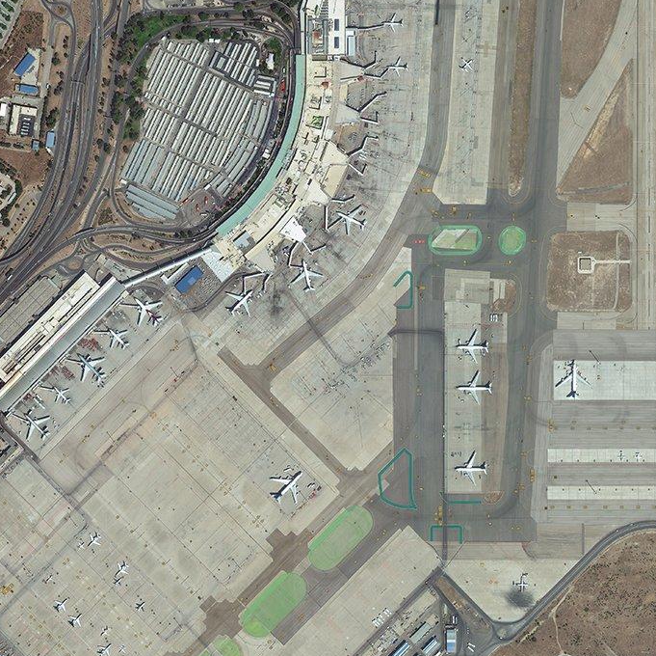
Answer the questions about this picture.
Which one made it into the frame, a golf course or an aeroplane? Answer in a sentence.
Of the two, only an aeroplane appears.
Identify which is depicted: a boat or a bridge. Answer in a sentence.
This aerial view contains a bridge.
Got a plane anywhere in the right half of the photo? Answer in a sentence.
Yes, a plane is visible in the right half of the photo.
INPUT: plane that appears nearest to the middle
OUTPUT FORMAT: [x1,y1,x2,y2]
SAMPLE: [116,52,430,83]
[291,261,325,293]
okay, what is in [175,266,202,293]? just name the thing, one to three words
hangar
